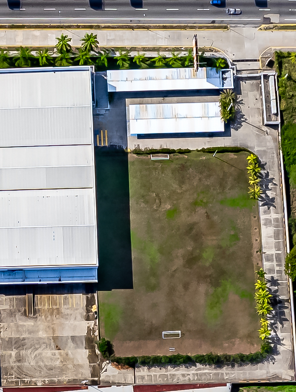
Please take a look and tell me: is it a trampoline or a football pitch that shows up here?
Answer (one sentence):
There is a football pitch in the scene.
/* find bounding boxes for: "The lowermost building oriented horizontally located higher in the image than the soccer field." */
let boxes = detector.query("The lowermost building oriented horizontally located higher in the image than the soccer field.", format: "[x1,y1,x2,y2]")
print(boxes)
[129,102,225,137]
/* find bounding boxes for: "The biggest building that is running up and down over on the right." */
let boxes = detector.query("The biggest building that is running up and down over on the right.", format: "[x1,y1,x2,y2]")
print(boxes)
[261,73,280,126]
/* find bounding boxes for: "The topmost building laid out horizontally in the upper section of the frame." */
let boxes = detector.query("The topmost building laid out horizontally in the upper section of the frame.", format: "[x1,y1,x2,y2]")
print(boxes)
[106,67,234,94]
